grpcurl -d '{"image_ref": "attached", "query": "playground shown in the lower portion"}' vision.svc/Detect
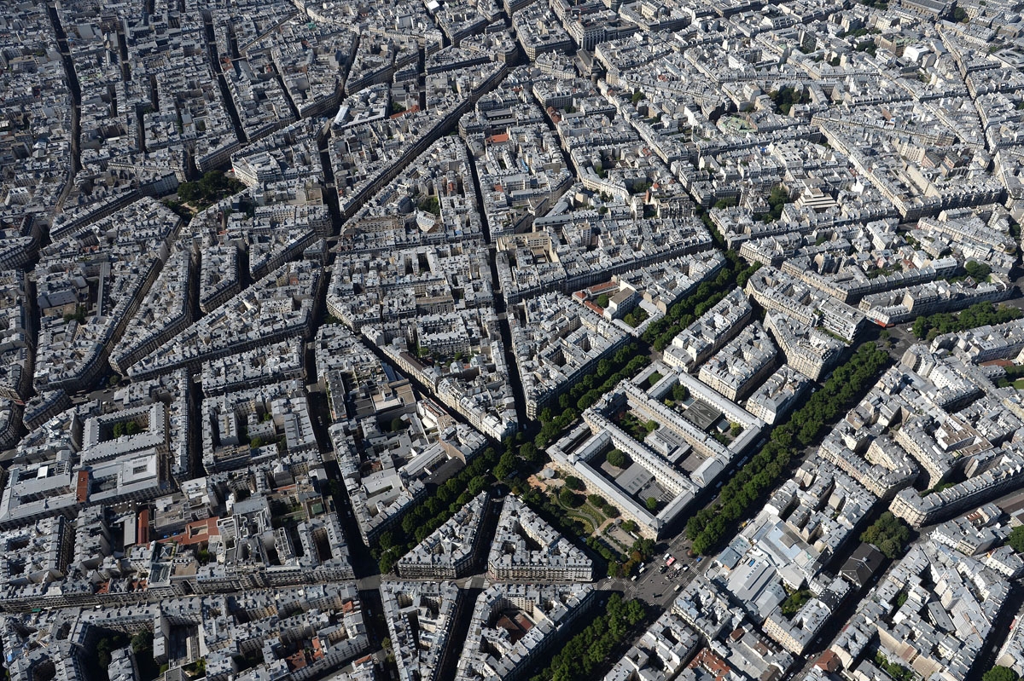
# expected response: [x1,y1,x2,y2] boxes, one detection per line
[525,464,565,496]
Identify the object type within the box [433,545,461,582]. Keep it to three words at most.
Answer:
building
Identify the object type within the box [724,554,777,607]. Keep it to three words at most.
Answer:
building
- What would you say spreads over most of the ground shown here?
buildings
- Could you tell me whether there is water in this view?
No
